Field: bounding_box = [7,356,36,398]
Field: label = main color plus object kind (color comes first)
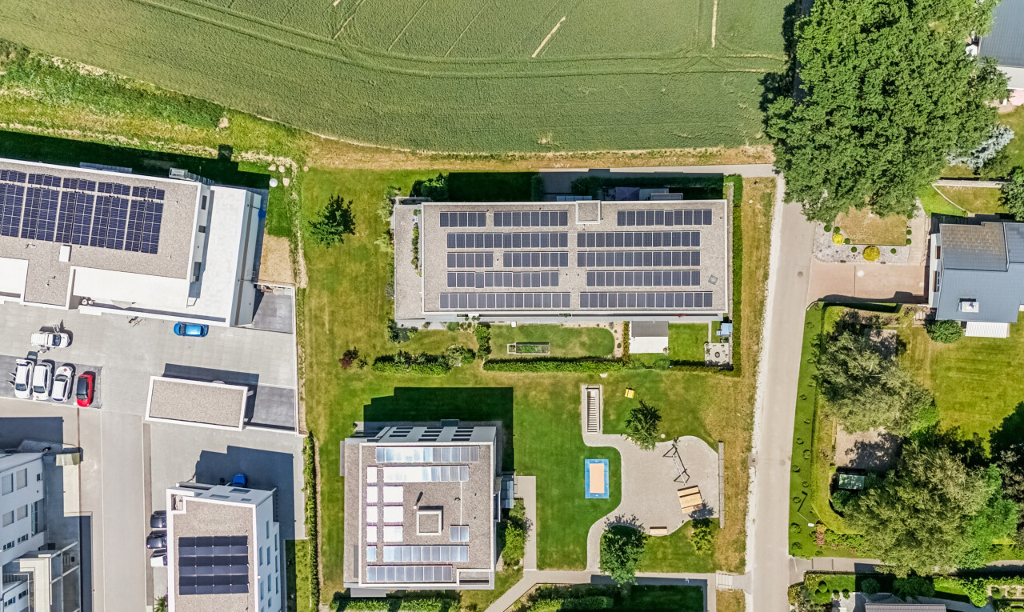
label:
white car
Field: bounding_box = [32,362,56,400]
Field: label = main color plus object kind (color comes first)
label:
white car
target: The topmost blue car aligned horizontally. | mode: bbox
[174,320,211,338]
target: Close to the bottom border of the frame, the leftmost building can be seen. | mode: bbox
[0,453,81,612]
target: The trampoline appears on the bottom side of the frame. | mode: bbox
[584,459,609,499]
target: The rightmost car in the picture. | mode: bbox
[230,471,250,488]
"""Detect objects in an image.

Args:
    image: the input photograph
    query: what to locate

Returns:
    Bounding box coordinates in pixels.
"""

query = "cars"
[230,471,250,488]
[7,356,36,398]
[32,362,56,400]
[52,364,77,403]
[174,320,211,338]
[29,325,74,356]
[149,529,167,549]
[75,373,97,407]
[151,510,167,530]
